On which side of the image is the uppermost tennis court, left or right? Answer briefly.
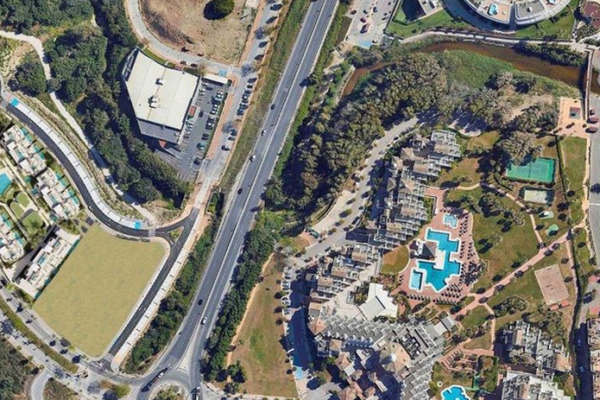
right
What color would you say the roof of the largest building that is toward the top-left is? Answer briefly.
white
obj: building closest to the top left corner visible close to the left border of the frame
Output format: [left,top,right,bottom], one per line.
[3,121,53,175]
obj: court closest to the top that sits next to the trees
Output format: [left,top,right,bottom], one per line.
[506,156,556,182]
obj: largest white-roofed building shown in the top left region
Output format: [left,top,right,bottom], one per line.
[122,49,198,148]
